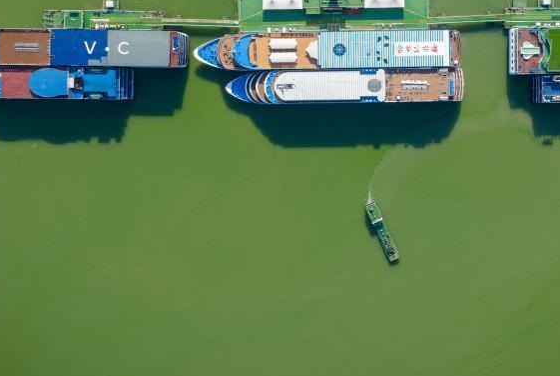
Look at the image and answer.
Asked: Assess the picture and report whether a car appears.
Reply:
No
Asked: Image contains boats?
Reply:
Yes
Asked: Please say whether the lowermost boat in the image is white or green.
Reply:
green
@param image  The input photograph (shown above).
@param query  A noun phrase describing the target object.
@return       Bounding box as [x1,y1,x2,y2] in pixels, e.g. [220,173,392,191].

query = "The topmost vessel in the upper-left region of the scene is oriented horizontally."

[0,30,191,68]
